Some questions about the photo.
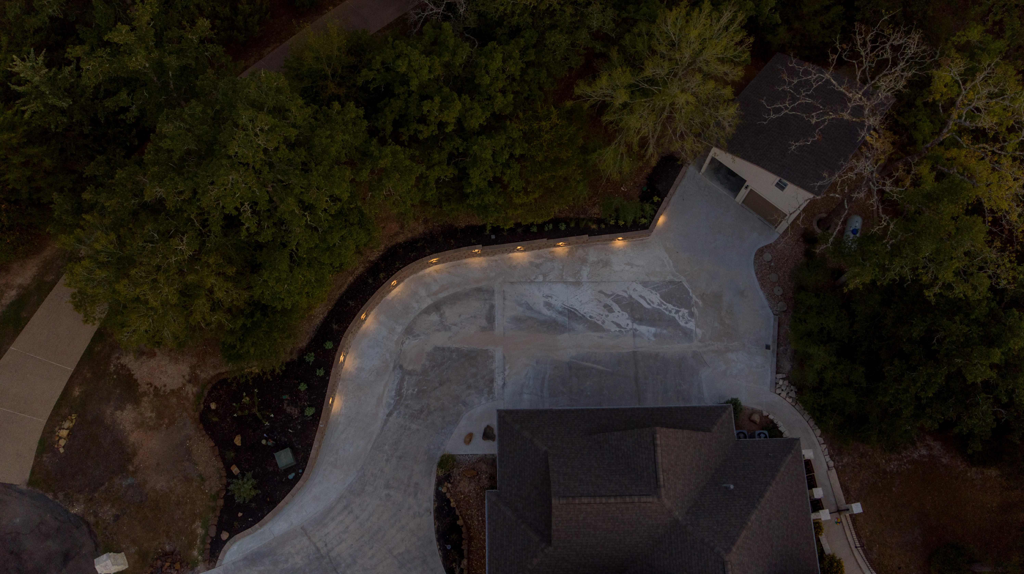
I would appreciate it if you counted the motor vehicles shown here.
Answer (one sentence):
The photo contains no motor vehicles.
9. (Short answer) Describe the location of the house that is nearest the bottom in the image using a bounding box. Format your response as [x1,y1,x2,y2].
[483,402,825,574]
